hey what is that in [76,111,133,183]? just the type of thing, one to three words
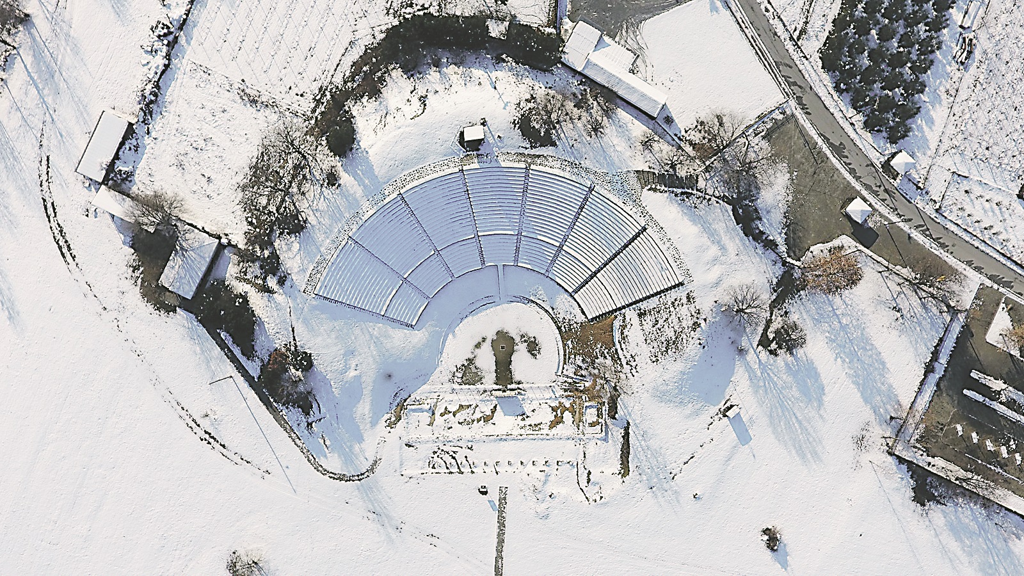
shed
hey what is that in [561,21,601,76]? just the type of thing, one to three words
house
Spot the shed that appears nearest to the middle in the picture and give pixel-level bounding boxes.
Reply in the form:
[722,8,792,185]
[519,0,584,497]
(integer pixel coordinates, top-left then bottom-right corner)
[458,126,485,156]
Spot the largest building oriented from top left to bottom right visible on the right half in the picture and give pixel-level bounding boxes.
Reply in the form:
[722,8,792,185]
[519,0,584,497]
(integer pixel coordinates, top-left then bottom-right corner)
[581,51,667,121]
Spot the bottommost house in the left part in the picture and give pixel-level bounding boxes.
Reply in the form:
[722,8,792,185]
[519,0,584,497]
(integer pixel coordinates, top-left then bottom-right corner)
[159,235,222,299]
